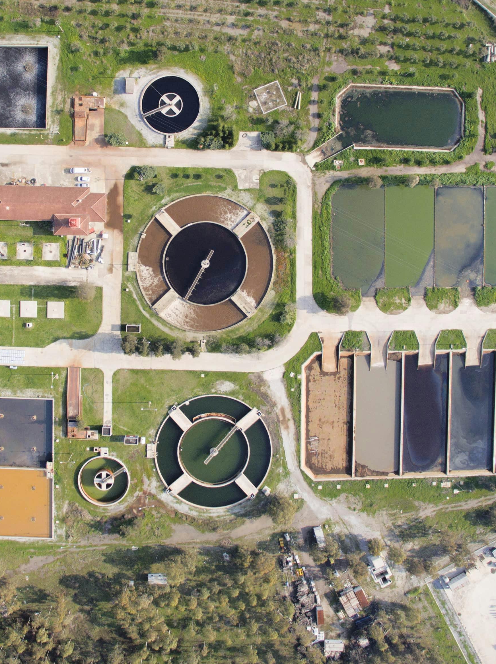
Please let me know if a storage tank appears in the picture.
Yes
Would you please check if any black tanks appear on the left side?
Yes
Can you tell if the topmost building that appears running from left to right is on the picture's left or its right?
left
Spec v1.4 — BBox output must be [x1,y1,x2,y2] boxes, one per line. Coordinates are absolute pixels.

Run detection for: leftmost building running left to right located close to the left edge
[0,185,108,235]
